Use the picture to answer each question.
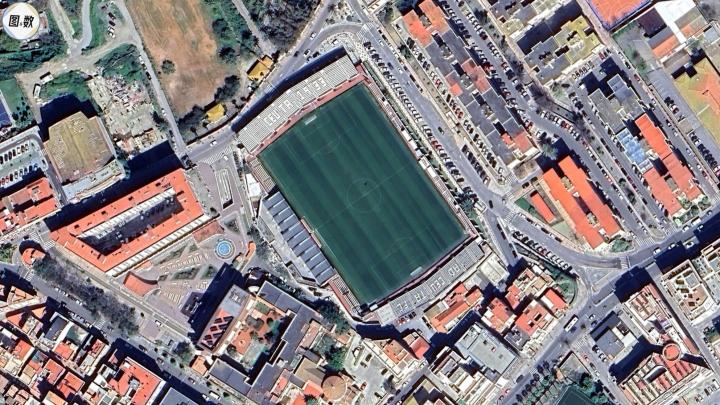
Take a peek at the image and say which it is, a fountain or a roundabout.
fountain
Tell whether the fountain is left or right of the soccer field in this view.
left of it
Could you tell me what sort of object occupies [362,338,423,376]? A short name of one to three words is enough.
house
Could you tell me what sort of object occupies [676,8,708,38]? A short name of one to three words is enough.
shed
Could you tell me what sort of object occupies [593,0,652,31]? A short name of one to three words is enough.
sports court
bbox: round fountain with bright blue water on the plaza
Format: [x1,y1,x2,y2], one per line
[212,236,236,260]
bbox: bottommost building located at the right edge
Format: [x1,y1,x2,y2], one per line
[618,353,702,405]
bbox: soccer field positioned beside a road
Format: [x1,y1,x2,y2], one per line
[252,73,472,314]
